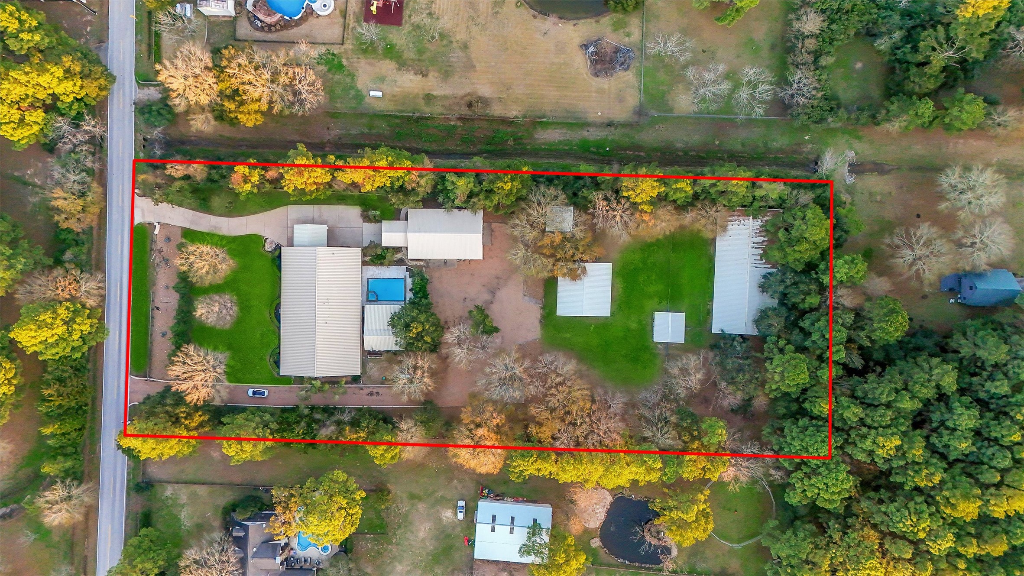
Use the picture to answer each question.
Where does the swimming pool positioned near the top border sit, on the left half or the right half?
left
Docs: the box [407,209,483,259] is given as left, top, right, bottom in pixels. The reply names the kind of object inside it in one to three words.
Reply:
house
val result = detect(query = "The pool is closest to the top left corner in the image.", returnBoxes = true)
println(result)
[246,0,309,24]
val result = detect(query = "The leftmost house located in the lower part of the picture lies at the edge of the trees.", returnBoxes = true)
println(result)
[229,513,315,576]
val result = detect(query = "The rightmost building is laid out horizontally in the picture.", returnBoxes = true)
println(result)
[941,272,1020,305]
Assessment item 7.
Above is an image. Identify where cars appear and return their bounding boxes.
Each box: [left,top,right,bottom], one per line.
[247,388,267,398]
[456,501,466,522]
